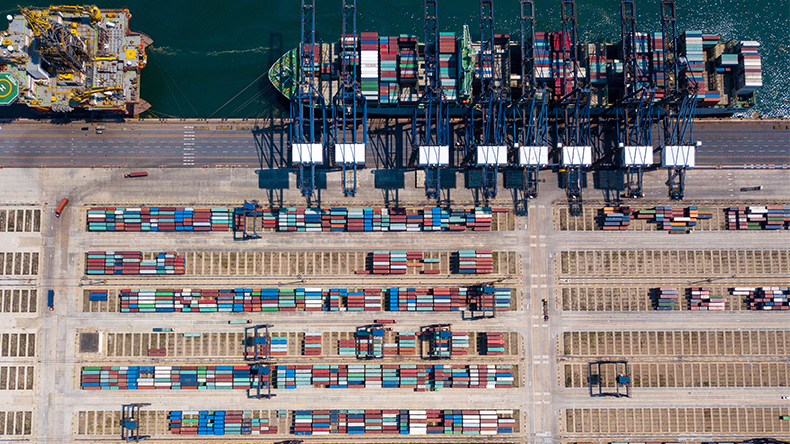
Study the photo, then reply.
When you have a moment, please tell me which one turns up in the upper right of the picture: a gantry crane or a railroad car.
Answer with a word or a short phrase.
gantry crane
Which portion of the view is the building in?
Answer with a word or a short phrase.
bottom left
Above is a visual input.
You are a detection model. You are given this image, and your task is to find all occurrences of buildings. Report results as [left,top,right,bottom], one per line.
[79,332,105,353]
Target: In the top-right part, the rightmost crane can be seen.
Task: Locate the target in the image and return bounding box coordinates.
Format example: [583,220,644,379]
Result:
[628,2,703,199]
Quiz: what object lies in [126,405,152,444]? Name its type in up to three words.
container crane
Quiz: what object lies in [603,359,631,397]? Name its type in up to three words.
container crane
